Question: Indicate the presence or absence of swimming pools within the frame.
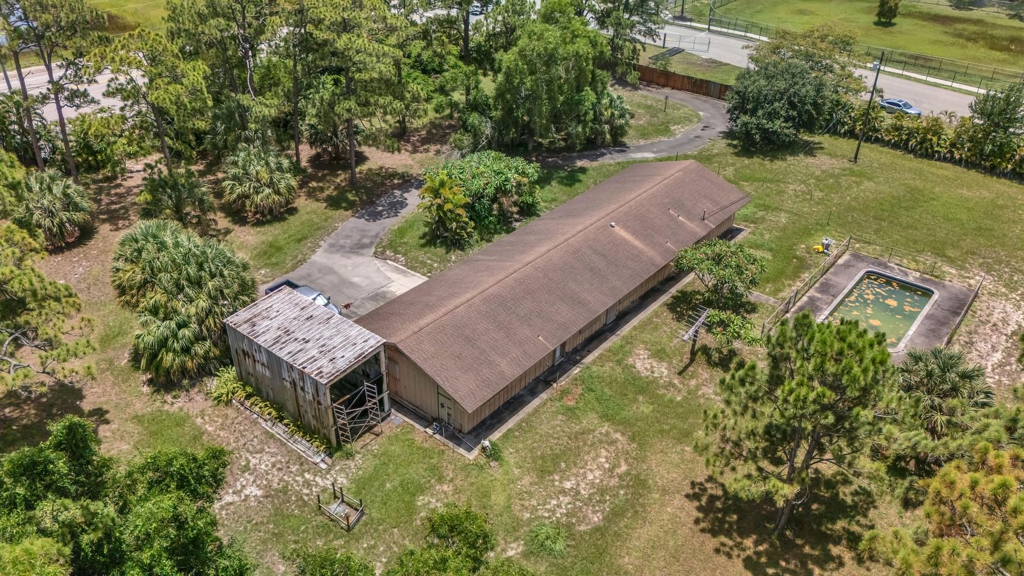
Yes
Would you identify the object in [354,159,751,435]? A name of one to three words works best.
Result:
house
